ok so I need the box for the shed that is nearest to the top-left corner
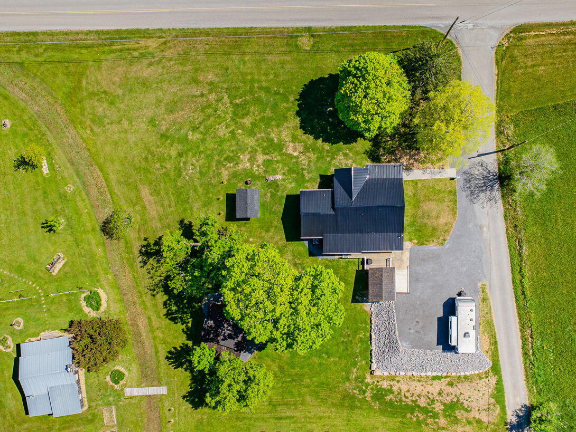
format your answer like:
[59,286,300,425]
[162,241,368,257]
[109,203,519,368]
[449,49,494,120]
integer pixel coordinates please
[236,189,260,218]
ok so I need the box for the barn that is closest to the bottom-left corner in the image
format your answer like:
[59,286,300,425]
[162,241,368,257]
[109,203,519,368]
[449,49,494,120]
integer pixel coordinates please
[19,336,85,417]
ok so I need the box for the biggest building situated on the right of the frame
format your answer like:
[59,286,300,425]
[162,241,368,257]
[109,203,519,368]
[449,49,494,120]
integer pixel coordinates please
[300,163,406,255]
